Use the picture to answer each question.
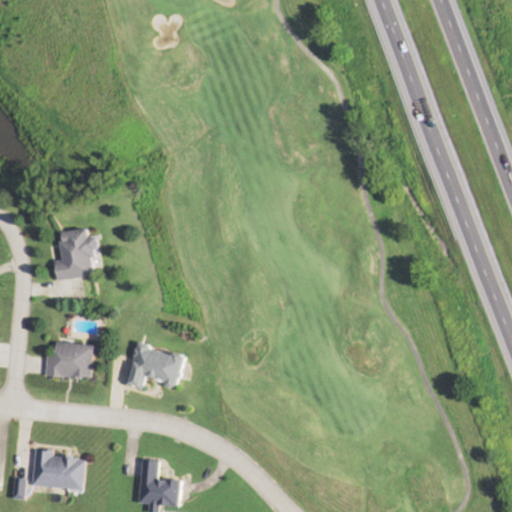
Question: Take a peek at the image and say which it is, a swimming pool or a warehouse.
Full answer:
I can see a swimming pool in this picture.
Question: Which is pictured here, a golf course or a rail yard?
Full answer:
The picture captures a golf course.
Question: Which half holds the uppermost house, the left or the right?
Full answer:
The uppermost house appears in the left half of the scene.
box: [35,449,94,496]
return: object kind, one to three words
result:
house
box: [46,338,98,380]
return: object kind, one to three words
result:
house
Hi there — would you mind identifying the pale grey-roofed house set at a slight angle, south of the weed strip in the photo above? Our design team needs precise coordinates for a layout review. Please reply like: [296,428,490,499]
[128,340,190,391]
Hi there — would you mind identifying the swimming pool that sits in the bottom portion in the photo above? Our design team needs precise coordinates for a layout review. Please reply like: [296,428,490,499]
[66,315,106,341]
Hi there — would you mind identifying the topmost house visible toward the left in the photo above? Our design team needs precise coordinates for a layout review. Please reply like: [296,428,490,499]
[56,226,104,280]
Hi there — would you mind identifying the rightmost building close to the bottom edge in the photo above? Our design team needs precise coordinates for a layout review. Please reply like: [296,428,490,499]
[139,458,184,512]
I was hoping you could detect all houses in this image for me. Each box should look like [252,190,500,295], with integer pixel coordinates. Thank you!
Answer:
[56,226,104,280]
[128,340,190,391]
[139,458,184,512]
[46,338,98,380]
[35,449,94,496]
